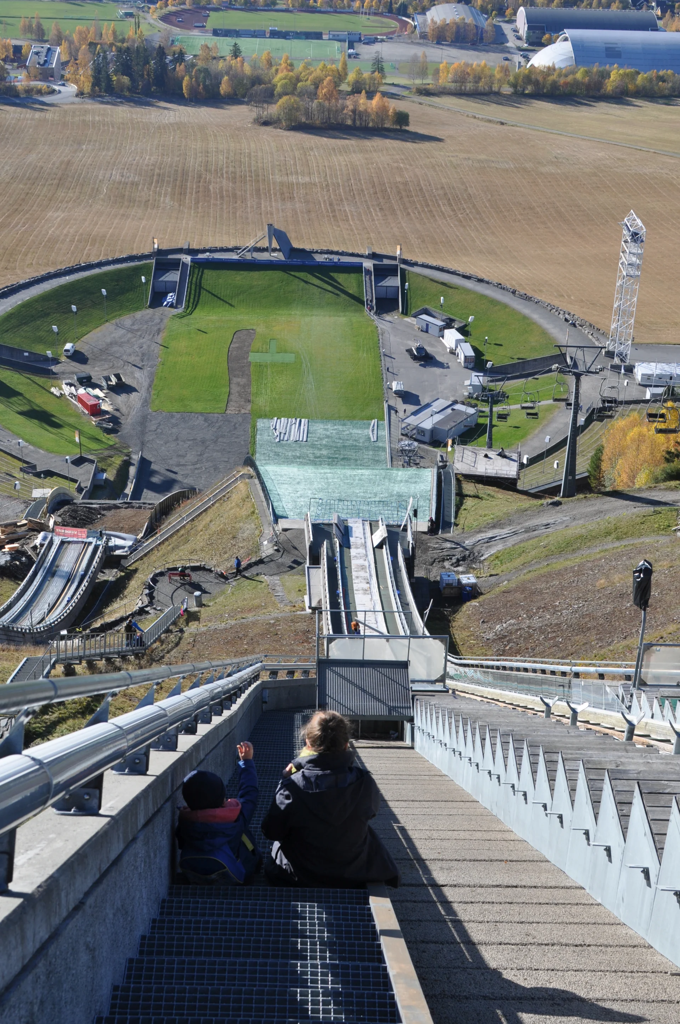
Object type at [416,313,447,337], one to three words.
shed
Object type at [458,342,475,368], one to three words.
shed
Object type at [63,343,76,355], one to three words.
vehicle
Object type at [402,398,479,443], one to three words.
building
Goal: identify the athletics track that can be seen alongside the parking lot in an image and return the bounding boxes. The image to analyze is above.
[163,7,413,36]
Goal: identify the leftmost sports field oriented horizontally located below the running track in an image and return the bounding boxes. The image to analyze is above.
[173,36,341,59]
